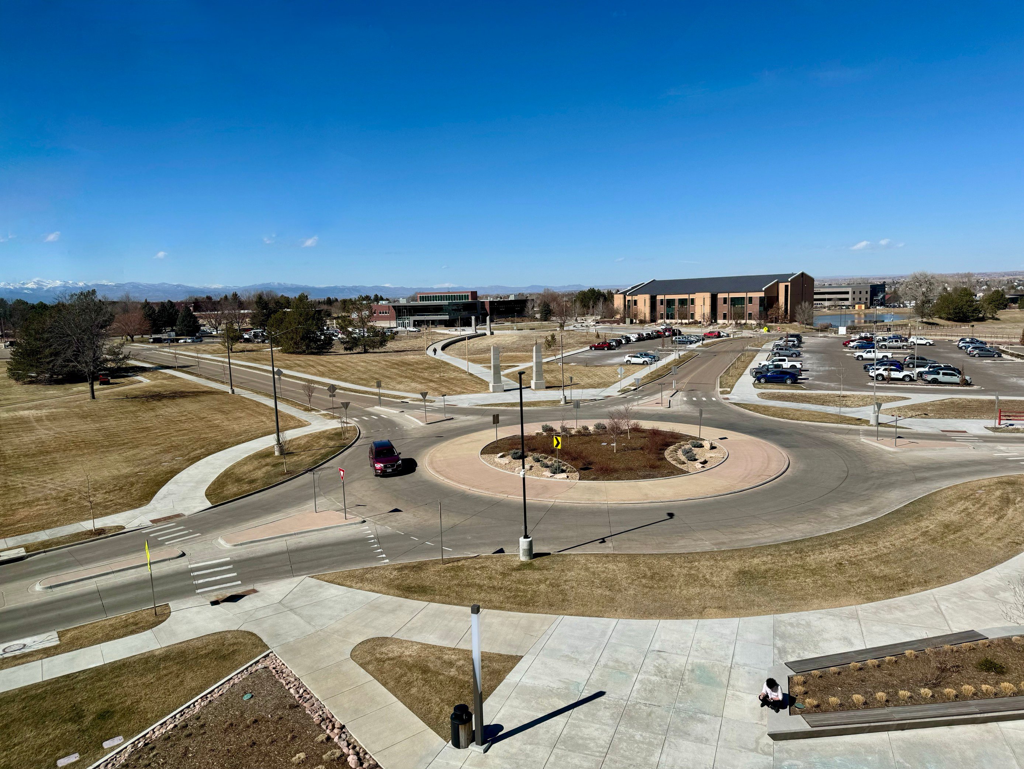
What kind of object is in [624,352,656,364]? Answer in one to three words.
vehicle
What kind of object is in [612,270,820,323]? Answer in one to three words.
building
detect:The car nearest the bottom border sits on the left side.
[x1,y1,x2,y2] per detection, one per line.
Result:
[365,436,402,472]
